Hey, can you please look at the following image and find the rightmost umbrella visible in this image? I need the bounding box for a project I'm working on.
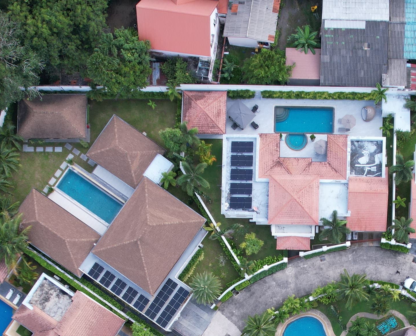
[342,114,357,129]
